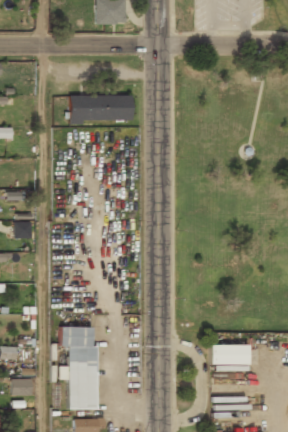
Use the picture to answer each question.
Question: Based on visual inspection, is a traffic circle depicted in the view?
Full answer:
No, there's no traffic circle here.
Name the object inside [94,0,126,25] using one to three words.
house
